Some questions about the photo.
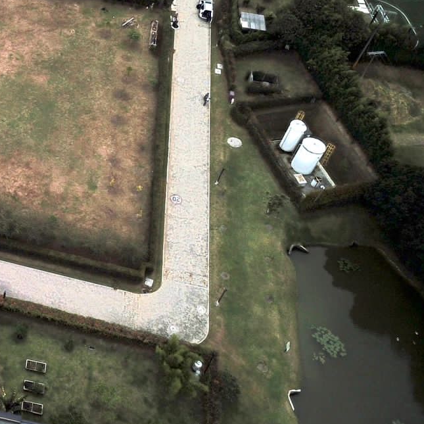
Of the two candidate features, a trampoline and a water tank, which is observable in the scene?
water tank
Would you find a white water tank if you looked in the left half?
No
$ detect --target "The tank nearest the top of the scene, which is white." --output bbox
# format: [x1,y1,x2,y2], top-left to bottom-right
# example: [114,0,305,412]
[279,119,310,155]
